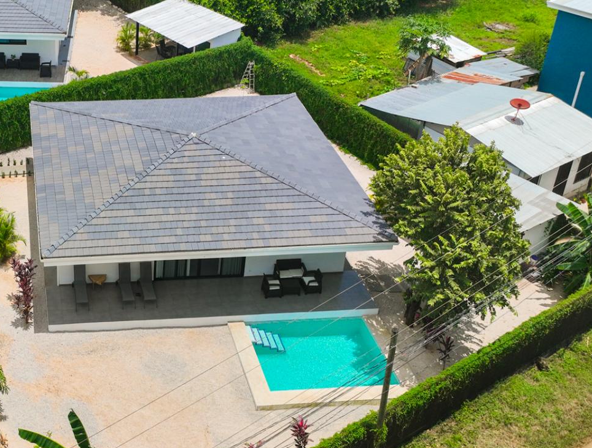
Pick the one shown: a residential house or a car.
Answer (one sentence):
Of the two, only a residential house appears.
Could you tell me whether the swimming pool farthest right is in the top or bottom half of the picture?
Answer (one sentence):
The swimming pool farthest right is in the bottom half of the image.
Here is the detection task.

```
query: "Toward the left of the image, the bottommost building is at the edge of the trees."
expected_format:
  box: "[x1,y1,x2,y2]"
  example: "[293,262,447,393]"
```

[25,90,388,332]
